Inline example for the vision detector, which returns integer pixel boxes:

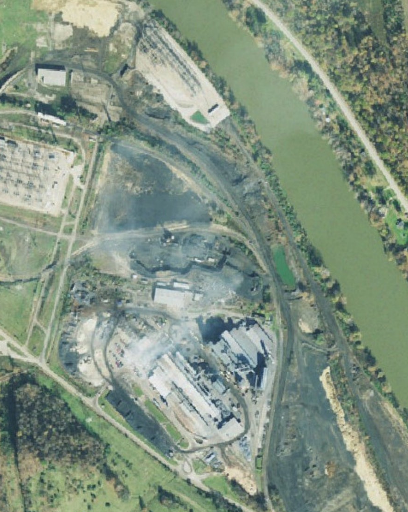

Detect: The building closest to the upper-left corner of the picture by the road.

[38,68,67,86]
